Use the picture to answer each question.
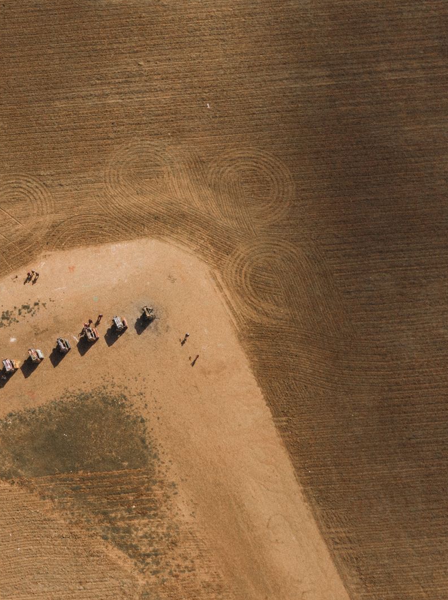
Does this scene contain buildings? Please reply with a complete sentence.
No, the scene contains no building.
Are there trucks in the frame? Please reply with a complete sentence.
No, no truck is visible in the view.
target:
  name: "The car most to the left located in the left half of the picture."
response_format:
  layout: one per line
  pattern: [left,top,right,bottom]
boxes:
[1,356,18,373]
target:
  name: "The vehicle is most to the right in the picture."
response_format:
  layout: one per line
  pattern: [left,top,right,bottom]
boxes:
[142,304,154,319]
